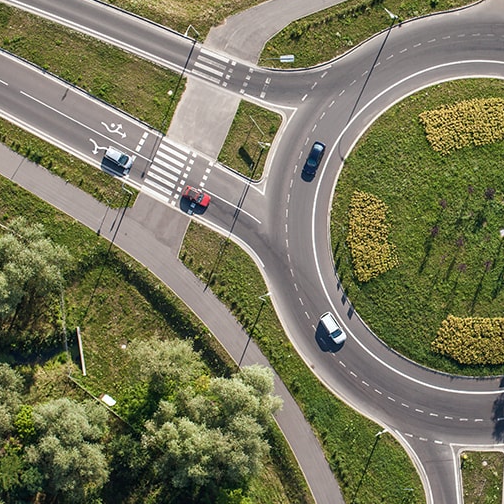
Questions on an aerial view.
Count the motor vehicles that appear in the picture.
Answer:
4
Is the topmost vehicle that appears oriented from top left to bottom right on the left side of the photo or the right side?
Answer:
left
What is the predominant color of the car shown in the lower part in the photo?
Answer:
white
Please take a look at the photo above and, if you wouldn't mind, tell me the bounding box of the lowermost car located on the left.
[182,186,210,206]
